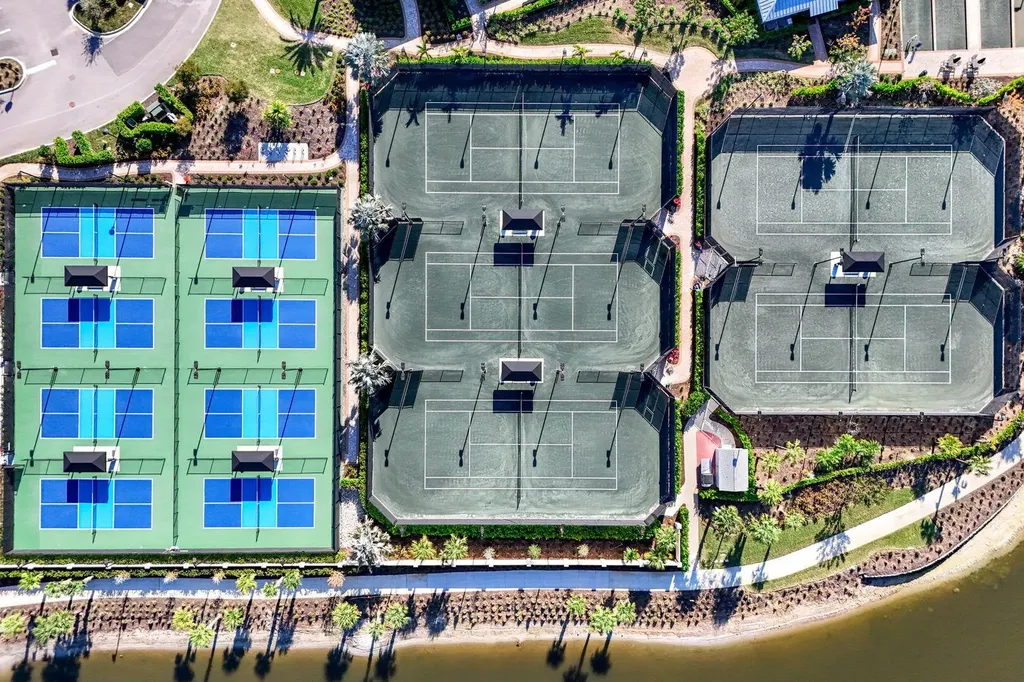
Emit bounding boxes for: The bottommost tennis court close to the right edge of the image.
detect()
[706,265,1003,413]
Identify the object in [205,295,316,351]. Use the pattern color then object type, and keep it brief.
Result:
blue sports court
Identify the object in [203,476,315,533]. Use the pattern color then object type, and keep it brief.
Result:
blue sports court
